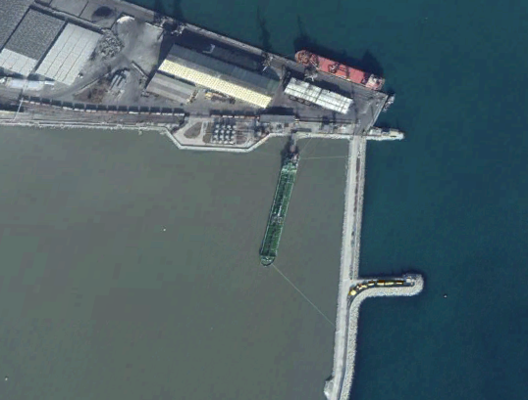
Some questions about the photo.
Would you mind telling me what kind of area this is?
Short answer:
port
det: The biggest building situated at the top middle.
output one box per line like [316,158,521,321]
[158,43,279,107]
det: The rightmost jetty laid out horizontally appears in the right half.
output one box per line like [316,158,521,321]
[367,128,405,141]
